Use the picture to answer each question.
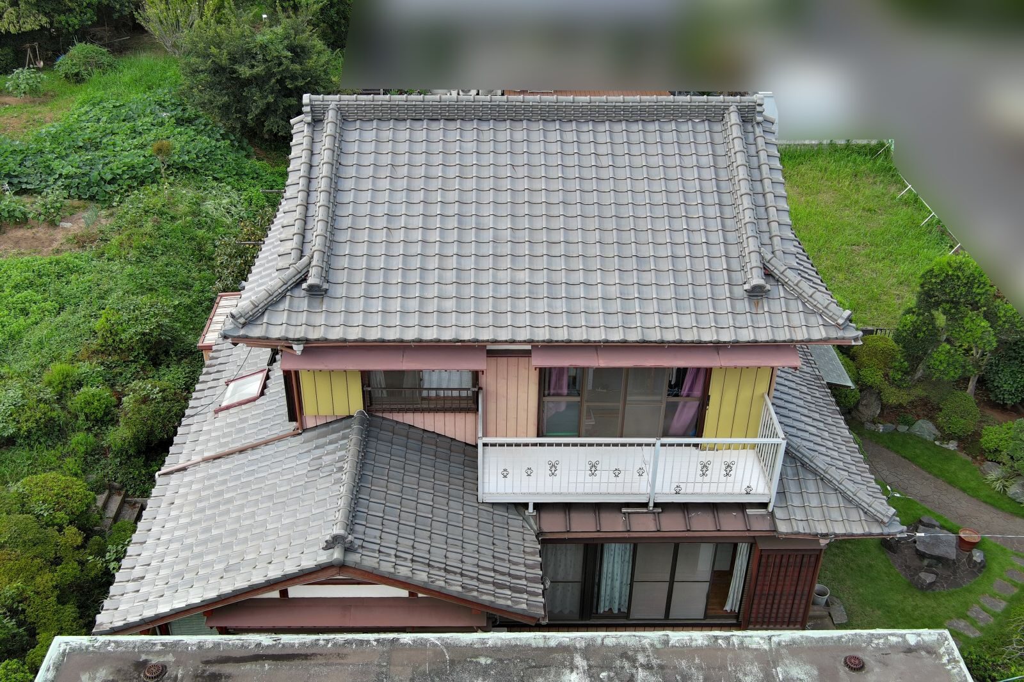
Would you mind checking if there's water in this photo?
No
